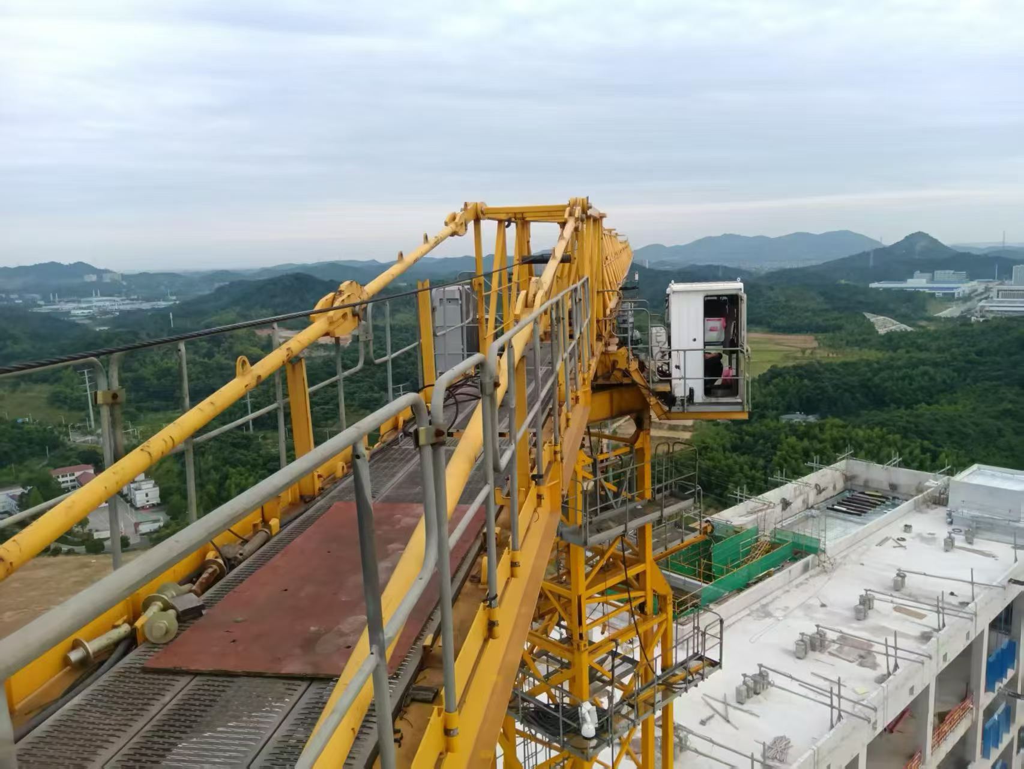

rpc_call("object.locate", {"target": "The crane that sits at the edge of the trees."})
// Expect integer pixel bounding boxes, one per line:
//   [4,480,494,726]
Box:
[0,192,755,769]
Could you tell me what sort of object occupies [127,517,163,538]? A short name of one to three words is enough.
building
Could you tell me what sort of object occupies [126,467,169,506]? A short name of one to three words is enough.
building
